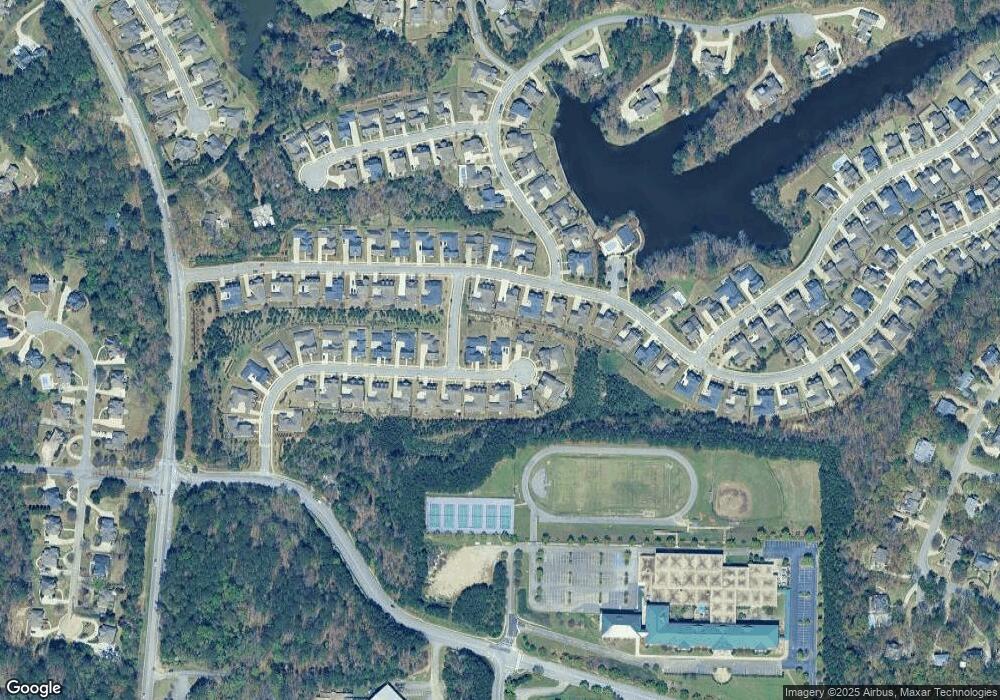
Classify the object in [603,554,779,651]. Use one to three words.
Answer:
building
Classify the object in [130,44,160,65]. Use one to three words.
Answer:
house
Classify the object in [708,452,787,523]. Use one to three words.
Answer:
baseball field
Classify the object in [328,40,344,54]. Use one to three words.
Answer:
swimming pool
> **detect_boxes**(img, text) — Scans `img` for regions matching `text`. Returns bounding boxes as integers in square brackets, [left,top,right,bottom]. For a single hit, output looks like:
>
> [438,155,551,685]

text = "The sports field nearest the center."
[530,453,689,517]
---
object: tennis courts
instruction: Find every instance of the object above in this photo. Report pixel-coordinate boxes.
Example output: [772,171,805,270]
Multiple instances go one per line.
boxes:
[499,504,511,528]
[430,504,440,528]
[485,504,497,528]
[472,504,483,528]
[457,504,470,528]
[443,504,455,528]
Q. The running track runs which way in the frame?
from side to side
